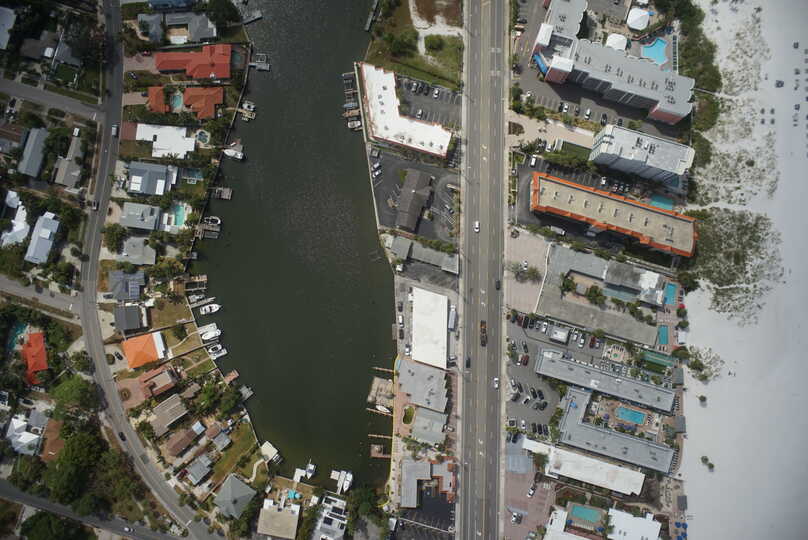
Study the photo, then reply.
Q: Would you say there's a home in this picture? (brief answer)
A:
Yes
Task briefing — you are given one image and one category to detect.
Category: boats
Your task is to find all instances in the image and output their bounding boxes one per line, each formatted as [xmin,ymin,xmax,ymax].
[377,405,391,414]
[343,110,361,116]
[307,461,316,478]
[343,470,354,493]
[224,149,245,159]
[198,305,220,314]
[188,294,204,302]
[200,332,220,341]
[348,120,362,128]
[207,344,222,354]
[204,216,221,224]
[344,103,358,109]
[241,101,255,110]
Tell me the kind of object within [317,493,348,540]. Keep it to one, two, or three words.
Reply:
house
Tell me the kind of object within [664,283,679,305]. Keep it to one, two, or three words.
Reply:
swimming pool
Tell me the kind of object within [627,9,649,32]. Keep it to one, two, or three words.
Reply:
tent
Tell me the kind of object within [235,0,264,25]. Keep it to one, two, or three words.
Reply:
pier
